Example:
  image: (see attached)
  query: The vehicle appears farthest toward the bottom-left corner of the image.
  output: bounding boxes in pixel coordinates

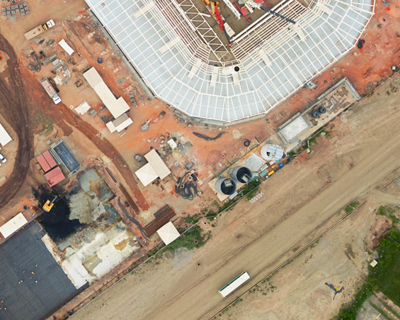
[42,194,61,213]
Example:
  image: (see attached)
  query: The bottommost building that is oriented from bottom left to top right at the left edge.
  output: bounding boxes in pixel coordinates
[0,213,27,238]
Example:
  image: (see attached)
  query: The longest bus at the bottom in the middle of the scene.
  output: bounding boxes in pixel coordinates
[216,269,249,297]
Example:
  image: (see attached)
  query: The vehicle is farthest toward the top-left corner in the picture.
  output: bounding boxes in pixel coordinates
[23,20,55,39]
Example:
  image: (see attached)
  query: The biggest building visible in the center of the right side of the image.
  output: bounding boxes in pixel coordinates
[280,116,309,143]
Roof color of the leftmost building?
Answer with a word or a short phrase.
white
